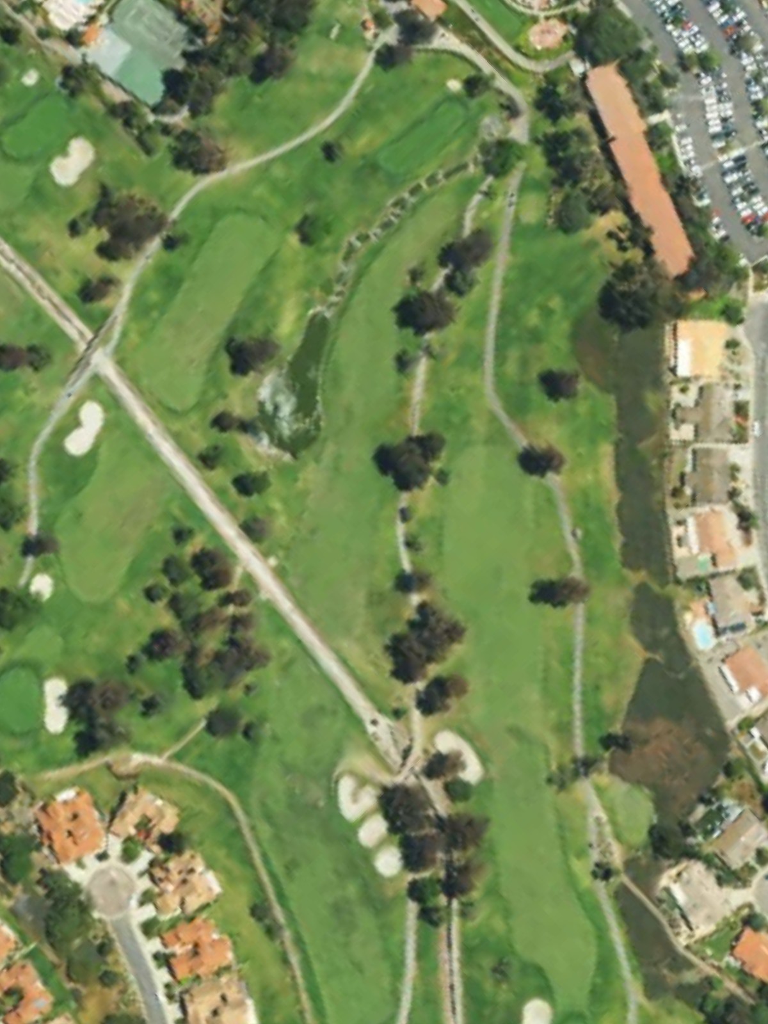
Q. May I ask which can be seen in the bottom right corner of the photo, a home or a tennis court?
home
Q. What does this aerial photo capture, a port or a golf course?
golf course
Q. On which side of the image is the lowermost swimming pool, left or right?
right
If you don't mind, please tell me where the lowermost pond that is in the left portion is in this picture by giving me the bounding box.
[256,313,333,459]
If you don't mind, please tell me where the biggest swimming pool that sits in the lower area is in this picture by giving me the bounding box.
[690,617,715,648]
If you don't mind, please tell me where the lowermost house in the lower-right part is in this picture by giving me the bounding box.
[727,926,768,988]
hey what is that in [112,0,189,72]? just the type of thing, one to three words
tennis court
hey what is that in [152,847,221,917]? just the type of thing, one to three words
house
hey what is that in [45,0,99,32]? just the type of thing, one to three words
house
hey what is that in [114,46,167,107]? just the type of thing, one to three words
tennis court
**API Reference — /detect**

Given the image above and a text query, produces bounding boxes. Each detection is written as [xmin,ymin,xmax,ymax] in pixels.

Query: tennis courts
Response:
[114,46,167,107]
[112,0,189,72]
